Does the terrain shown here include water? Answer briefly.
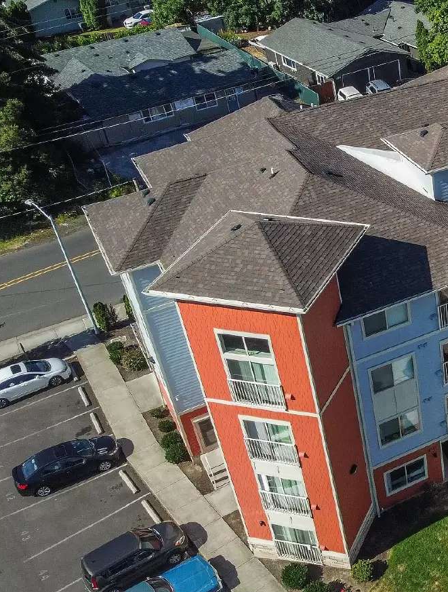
No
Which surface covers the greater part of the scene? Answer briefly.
buildings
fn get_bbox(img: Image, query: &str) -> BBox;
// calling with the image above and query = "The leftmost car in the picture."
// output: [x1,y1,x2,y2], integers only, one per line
[0,361,67,408]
